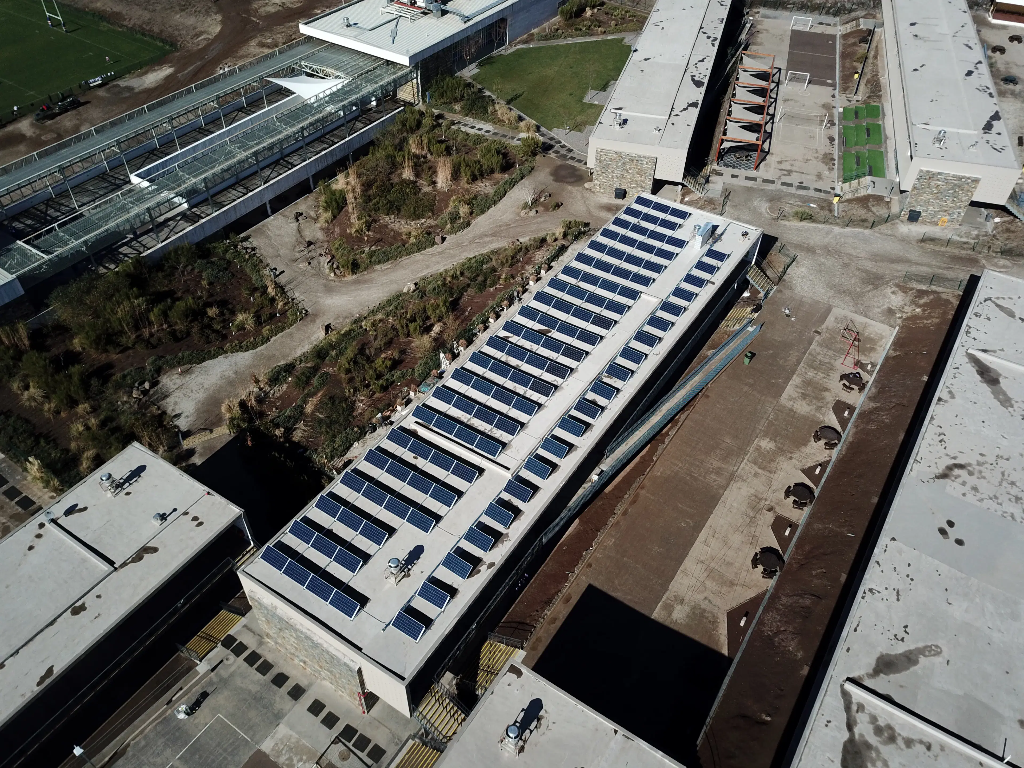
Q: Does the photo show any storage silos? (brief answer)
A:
No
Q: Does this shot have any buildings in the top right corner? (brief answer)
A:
Yes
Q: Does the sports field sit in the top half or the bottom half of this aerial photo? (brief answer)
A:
top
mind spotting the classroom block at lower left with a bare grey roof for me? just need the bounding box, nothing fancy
[0,442,256,768]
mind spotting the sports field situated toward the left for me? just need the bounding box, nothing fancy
[0,0,173,114]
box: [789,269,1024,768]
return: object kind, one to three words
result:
building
